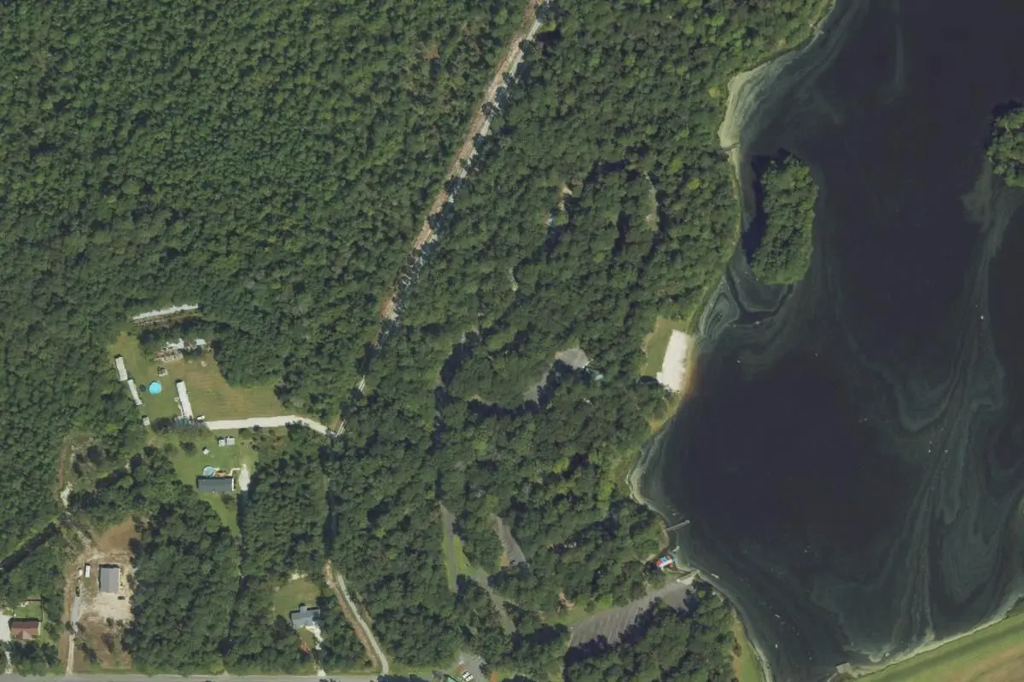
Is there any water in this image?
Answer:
Yes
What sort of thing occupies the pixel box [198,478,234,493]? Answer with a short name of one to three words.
house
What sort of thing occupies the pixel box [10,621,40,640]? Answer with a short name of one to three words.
house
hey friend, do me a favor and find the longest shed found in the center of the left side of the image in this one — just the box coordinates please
[132,303,198,321]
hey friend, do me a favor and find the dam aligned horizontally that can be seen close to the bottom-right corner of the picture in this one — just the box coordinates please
[834,597,1024,682]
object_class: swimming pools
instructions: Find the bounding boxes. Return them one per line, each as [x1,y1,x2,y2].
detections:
[149,382,162,394]
[203,466,215,478]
